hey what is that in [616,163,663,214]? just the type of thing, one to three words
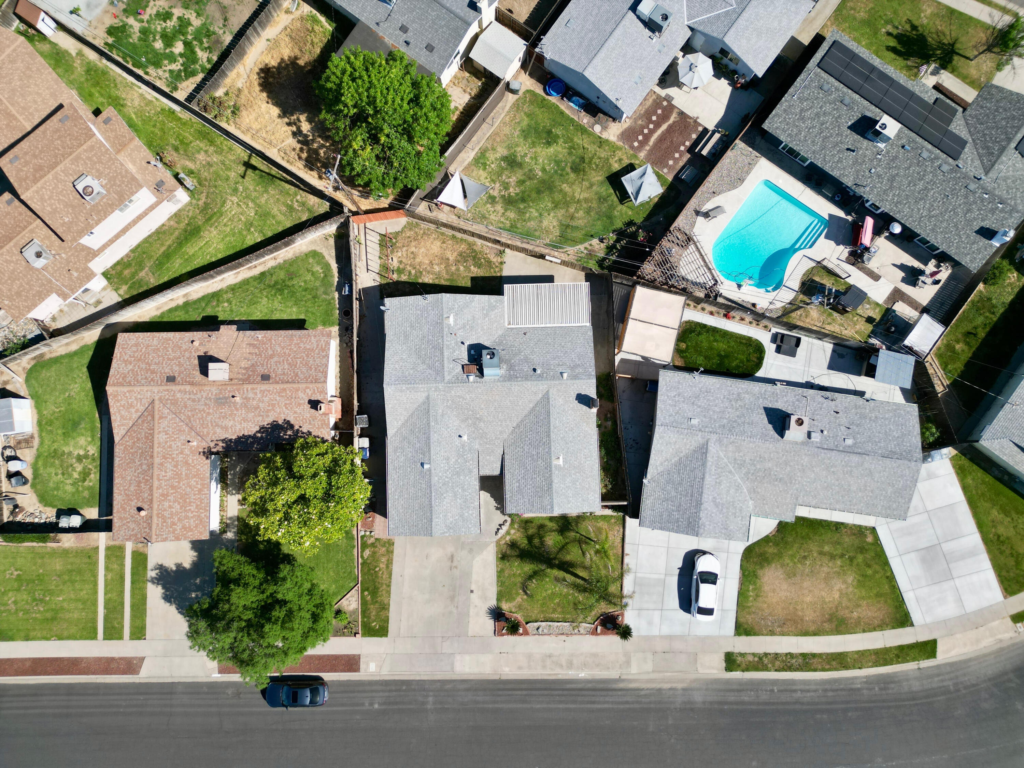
tent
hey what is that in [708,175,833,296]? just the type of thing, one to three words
swimming pool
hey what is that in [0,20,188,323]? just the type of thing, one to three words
house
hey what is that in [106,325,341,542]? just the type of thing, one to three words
house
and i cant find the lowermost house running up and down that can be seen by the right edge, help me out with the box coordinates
[962,338,1024,477]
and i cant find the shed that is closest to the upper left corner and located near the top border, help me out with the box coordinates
[13,0,61,39]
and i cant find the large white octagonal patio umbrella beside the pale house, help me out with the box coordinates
[678,53,714,88]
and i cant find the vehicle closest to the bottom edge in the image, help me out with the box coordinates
[267,678,331,713]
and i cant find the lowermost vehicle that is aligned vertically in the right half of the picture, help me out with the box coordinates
[690,552,725,622]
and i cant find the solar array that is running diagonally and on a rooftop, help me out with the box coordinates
[818,41,967,159]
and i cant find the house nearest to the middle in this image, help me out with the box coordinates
[383,293,603,536]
